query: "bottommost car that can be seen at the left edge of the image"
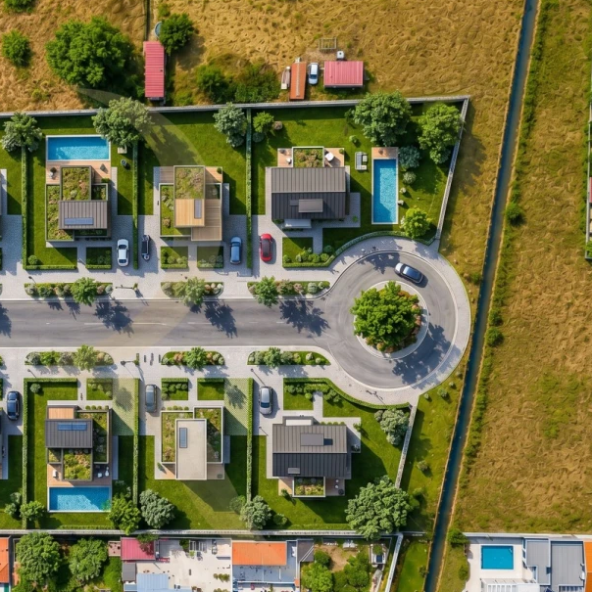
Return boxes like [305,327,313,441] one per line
[6,391,21,418]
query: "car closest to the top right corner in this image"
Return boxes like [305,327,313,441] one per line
[308,63,320,85]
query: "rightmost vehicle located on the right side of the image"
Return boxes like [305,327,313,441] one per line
[393,262,426,285]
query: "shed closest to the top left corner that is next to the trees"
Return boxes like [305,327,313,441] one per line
[145,41,165,102]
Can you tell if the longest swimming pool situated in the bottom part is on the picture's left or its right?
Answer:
left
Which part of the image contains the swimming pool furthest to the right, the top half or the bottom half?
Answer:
bottom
